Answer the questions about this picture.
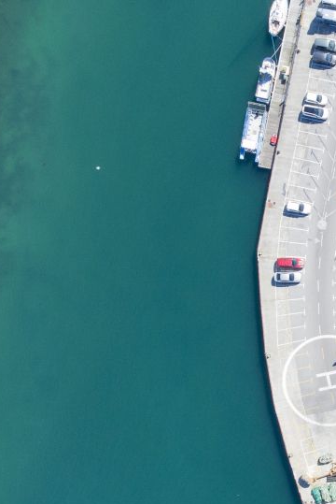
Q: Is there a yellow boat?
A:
No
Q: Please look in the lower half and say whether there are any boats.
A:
No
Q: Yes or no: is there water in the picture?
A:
Yes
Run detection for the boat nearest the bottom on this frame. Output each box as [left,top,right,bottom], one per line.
[240,100,267,163]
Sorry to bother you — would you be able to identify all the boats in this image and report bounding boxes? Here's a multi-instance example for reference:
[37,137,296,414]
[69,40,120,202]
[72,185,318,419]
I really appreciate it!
[240,100,267,163]
[255,57,276,105]
[268,0,291,39]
